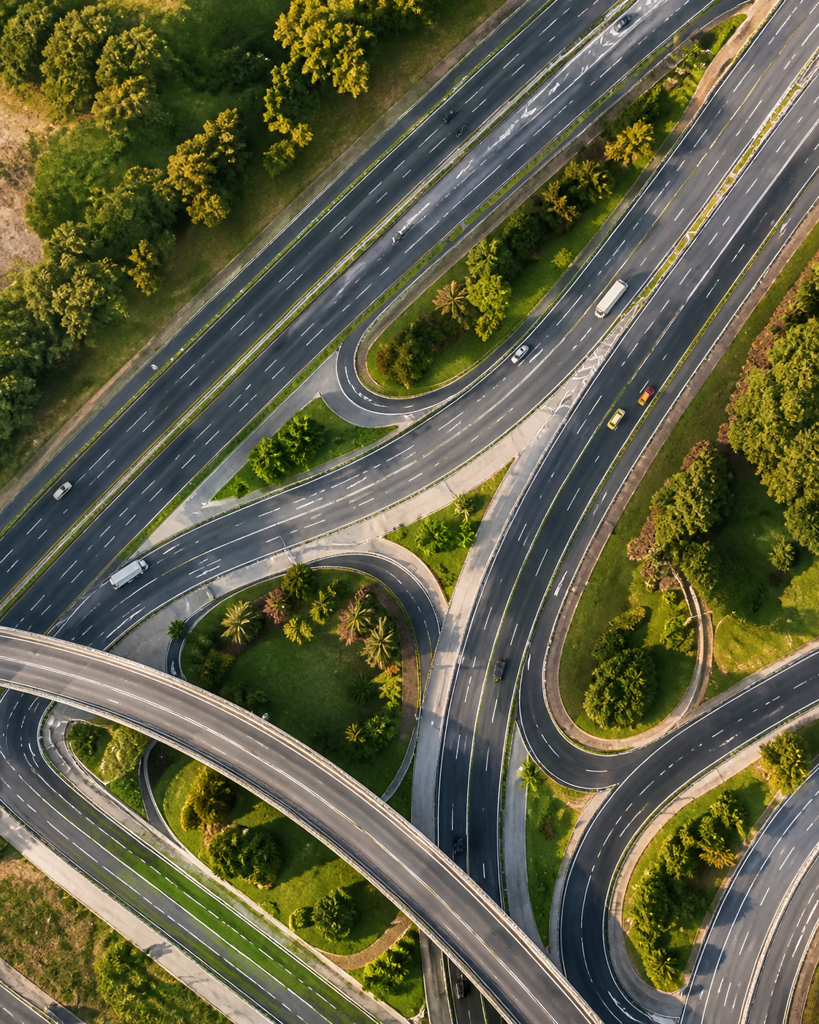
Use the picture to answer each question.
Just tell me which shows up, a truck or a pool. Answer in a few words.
truck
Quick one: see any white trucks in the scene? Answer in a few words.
Yes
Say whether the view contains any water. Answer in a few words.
No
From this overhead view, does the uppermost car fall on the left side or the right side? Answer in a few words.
right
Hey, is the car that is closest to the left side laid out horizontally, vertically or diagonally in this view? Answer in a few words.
diagonally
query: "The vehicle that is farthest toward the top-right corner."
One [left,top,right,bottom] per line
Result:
[611,12,633,33]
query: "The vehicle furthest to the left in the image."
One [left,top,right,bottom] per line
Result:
[51,481,72,501]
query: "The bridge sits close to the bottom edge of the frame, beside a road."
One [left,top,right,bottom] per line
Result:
[0,627,605,1024]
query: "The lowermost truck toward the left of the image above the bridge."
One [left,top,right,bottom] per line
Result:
[107,559,149,589]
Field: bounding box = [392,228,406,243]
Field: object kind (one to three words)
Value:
car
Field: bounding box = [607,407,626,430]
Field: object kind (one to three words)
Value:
car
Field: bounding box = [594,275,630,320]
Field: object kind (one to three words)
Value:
truck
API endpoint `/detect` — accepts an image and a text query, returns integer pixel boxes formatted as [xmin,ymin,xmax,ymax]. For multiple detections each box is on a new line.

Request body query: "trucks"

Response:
[107,559,149,589]
[594,275,630,320]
